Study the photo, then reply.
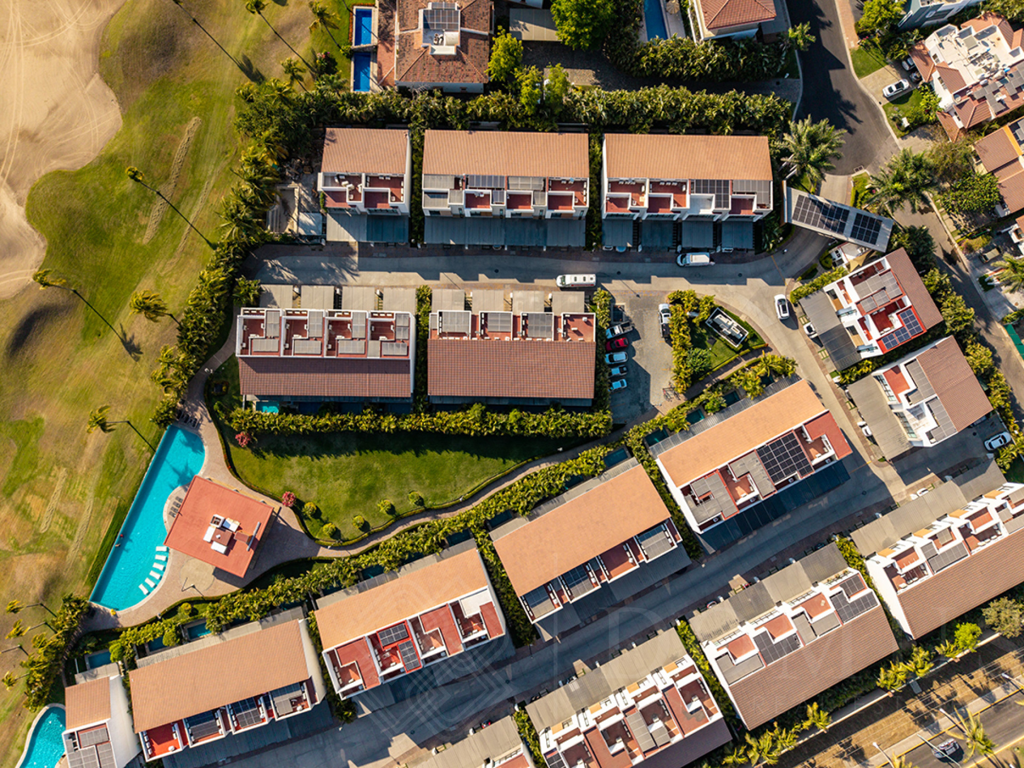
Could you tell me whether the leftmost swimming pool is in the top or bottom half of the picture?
bottom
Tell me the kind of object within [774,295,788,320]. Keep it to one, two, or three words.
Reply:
car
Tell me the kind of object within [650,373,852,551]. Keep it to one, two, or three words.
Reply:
house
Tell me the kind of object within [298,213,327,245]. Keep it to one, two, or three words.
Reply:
shed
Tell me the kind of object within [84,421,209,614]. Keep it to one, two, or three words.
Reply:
swimming pool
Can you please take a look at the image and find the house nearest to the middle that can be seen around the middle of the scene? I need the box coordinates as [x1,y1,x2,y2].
[427,290,597,404]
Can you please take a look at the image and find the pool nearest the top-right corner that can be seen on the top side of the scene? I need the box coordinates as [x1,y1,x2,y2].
[643,0,670,43]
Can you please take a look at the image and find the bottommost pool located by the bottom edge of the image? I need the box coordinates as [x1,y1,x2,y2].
[13,703,66,768]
